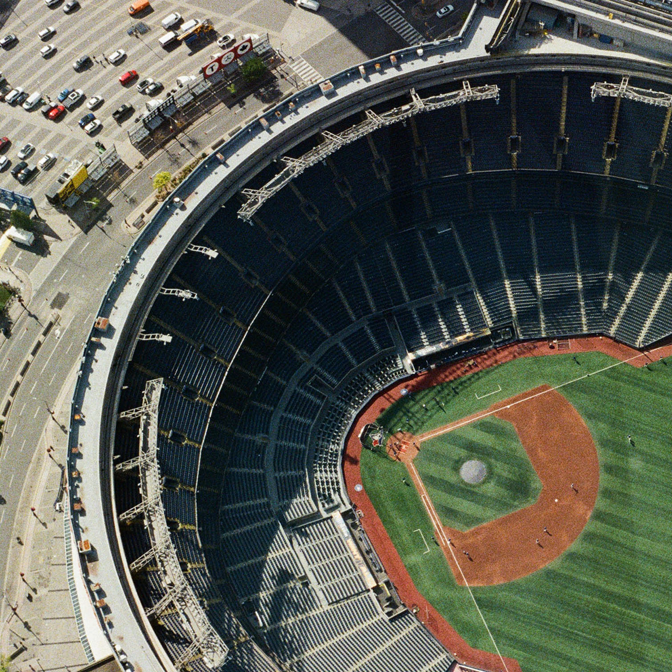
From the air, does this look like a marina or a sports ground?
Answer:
sports ground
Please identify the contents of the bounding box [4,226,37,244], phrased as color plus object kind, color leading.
white vehicle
